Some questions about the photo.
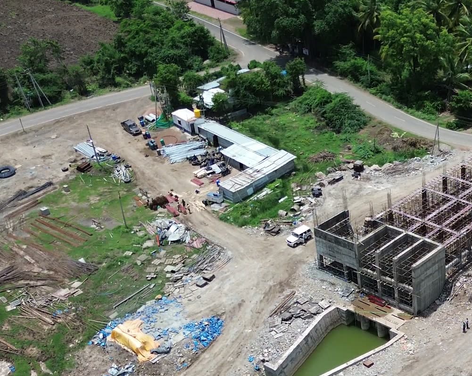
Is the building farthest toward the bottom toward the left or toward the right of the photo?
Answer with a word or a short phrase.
right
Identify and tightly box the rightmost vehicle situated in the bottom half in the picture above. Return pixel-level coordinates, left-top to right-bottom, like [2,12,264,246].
[285,223,313,246]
